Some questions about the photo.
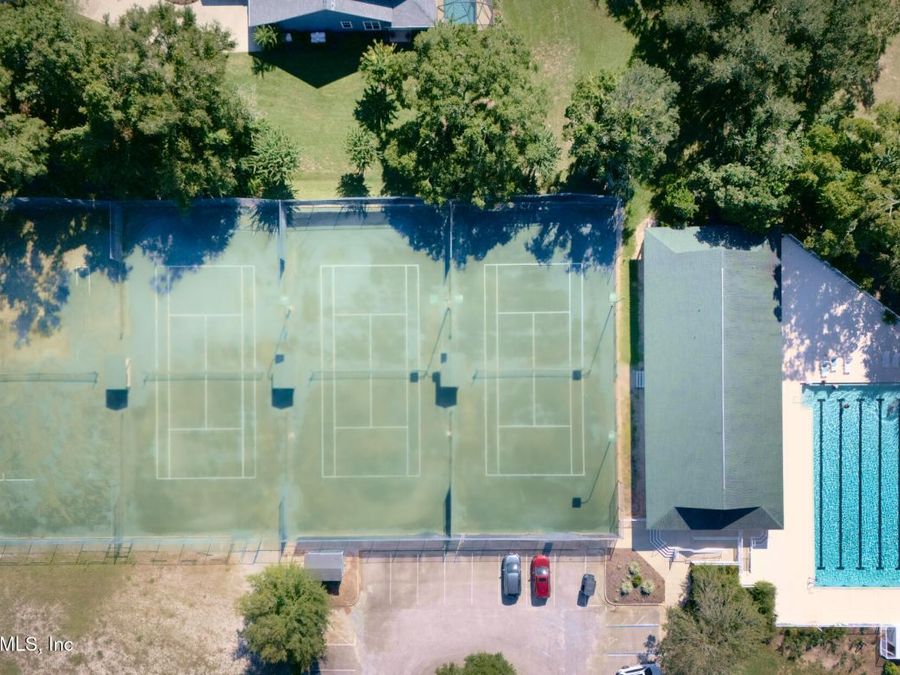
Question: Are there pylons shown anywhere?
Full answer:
No, the scene contains no pylon.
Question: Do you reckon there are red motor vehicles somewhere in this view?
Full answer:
Yes, there's a red motor vehicle down there.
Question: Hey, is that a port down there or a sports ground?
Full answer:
The picture captures a sports ground.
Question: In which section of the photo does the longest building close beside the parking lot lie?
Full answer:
The longest building close beside the parking lot sits in the right section of the image.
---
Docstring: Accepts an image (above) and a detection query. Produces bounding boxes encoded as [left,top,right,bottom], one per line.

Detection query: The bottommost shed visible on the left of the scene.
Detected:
[302,548,345,582]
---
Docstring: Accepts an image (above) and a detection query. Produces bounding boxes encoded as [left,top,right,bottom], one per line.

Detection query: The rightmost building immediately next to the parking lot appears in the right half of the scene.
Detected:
[642,228,789,530]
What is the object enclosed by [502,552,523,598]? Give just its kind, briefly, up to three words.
car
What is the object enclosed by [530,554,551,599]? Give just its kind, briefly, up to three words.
car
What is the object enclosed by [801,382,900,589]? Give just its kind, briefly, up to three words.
swimming pool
